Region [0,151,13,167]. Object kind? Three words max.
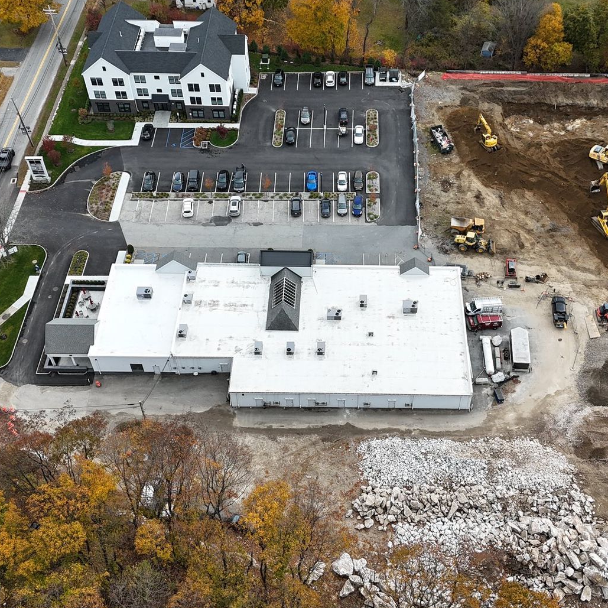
vehicle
